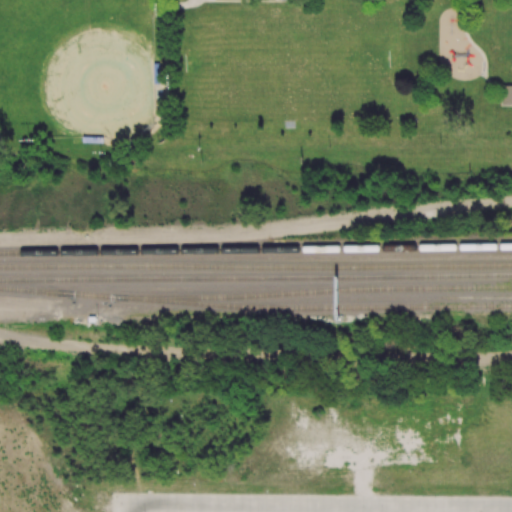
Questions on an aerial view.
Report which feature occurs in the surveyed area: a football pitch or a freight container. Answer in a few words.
football pitch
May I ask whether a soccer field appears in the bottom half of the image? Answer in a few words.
No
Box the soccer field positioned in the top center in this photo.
[184,7,392,118]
